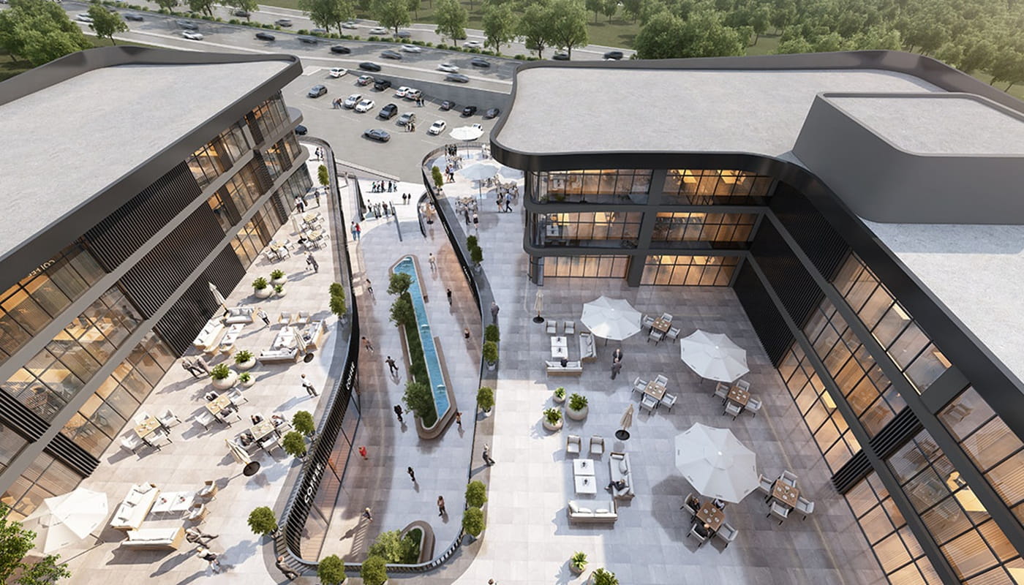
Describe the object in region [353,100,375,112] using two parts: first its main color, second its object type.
white vehicle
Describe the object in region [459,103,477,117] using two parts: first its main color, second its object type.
black car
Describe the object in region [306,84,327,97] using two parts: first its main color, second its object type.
gray vehicle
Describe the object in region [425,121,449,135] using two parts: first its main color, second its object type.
white car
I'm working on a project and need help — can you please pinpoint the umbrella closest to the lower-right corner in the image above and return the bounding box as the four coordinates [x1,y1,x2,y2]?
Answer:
[670,423,760,507]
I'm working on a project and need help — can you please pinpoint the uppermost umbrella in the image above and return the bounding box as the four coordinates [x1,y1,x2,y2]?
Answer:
[450,130,483,144]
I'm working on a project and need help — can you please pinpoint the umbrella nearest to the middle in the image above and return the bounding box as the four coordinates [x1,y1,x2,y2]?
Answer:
[532,289,545,325]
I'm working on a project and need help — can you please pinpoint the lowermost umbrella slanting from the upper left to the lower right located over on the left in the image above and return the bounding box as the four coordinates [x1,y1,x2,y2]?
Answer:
[227,438,261,478]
